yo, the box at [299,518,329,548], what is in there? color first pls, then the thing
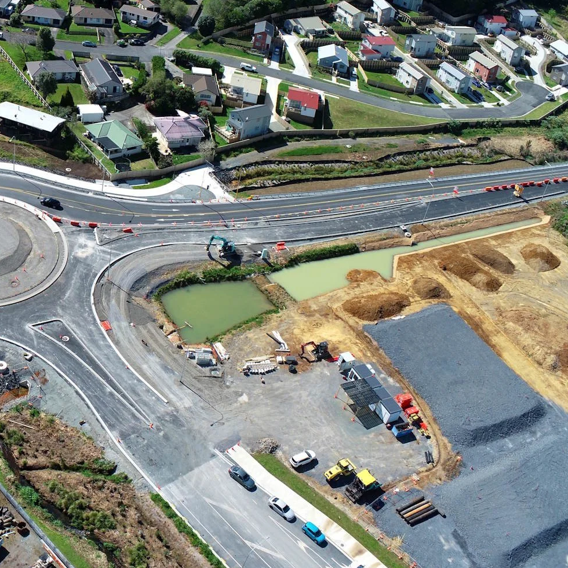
blue car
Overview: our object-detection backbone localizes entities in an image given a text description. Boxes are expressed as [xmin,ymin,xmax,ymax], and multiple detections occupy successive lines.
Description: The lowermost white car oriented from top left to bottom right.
[266,493,299,524]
